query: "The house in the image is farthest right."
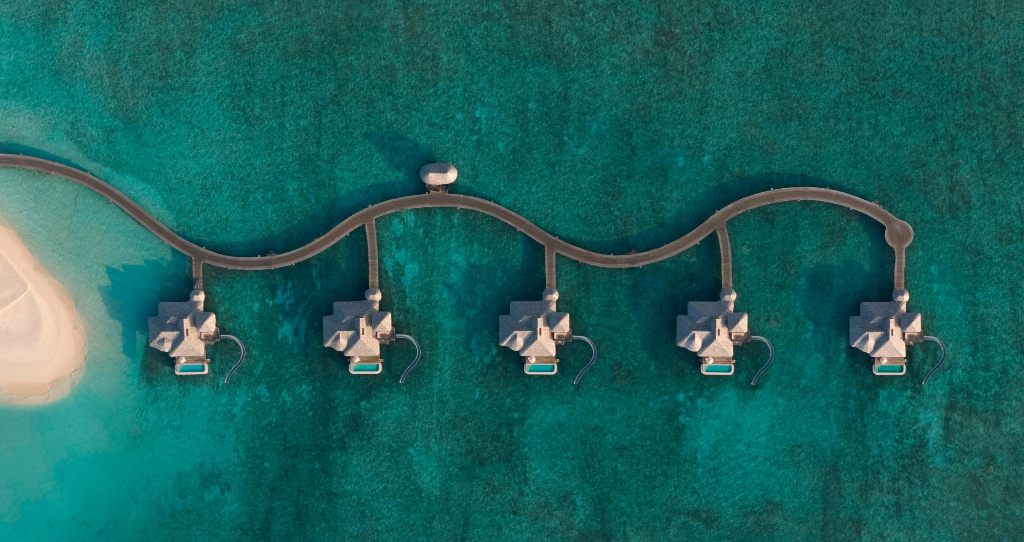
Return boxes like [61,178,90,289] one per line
[848,289,927,365]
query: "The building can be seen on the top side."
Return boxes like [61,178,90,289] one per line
[420,162,458,194]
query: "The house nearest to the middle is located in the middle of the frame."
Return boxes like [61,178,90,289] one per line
[499,289,578,364]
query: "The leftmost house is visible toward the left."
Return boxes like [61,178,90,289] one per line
[147,288,226,364]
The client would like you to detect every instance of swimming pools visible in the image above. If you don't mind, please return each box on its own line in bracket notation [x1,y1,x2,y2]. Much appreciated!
[175,364,209,374]
[700,364,734,374]
[872,364,906,375]
[348,363,382,374]
[524,364,557,374]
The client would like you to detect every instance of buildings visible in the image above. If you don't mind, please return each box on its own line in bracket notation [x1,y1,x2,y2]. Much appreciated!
[848,289,927,365]
[323,288,402,364]
[499,289,578,364]
[147,288,226,364]
[420,162,458,194]
[677,289,755,365]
